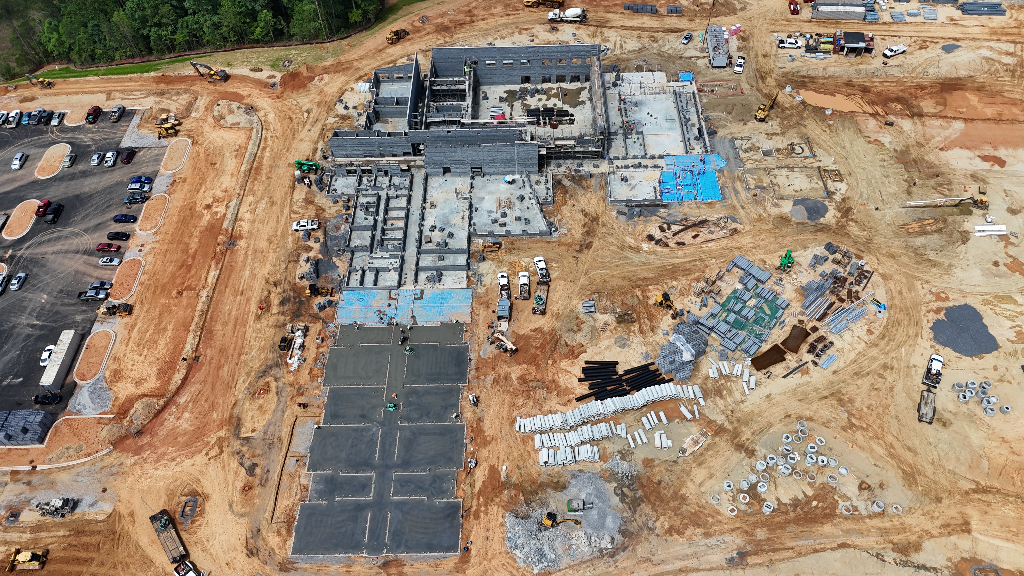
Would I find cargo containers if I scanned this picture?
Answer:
Yes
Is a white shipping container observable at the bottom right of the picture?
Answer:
No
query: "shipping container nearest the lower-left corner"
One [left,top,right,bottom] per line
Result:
[35,330,81,395]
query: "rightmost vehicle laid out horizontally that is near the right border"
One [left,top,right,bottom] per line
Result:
[957,196,991,211]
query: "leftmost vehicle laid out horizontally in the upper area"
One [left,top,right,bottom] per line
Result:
[23,77,58,93]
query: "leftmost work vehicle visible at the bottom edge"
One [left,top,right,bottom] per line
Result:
[1,545,52,576]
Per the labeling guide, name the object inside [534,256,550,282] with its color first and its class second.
white vehicle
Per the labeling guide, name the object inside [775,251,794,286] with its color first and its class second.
green work vehicle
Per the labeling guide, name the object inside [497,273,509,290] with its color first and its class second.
white vehicle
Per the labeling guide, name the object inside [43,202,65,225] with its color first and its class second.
black truck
